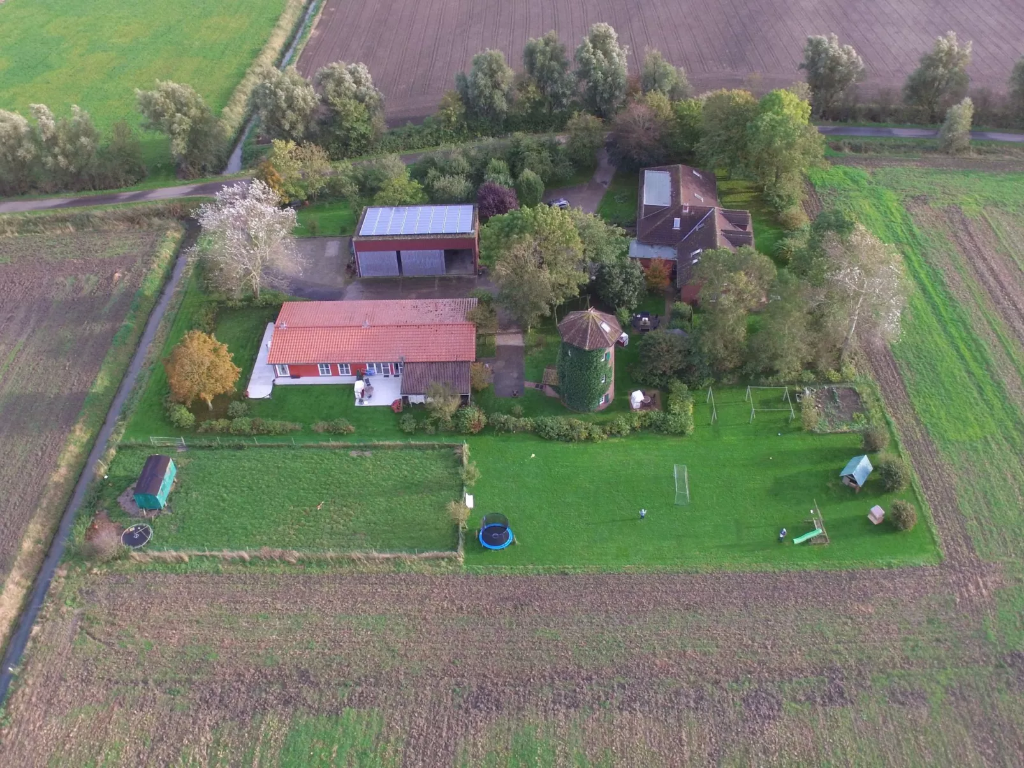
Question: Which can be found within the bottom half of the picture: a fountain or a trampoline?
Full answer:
Visible within the bottom half of the picture is a trampoline.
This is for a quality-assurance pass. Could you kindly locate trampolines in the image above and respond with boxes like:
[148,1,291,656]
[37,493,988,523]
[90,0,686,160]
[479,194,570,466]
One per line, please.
[480,514,513,556]
[122,522,156,553]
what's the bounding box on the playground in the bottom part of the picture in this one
[805,499,830,543]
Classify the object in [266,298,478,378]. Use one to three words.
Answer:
house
